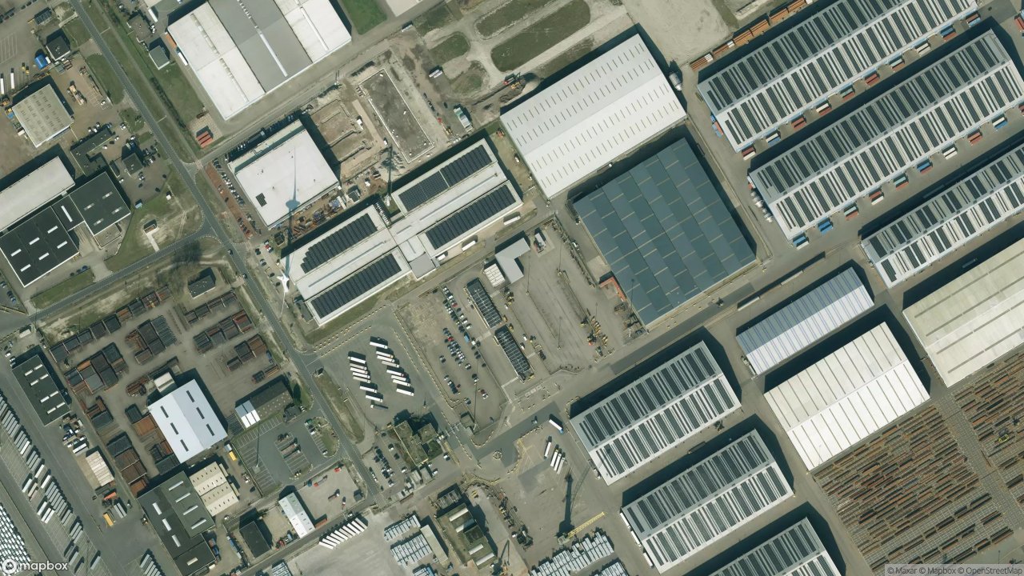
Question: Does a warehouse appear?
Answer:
Yes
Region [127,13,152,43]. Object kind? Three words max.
house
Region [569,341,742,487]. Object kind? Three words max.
warehouse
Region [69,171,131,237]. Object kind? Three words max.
building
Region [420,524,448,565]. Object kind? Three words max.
shed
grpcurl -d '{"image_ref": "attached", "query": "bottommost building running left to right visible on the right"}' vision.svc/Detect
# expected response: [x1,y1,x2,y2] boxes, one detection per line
[705,517,841,576]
